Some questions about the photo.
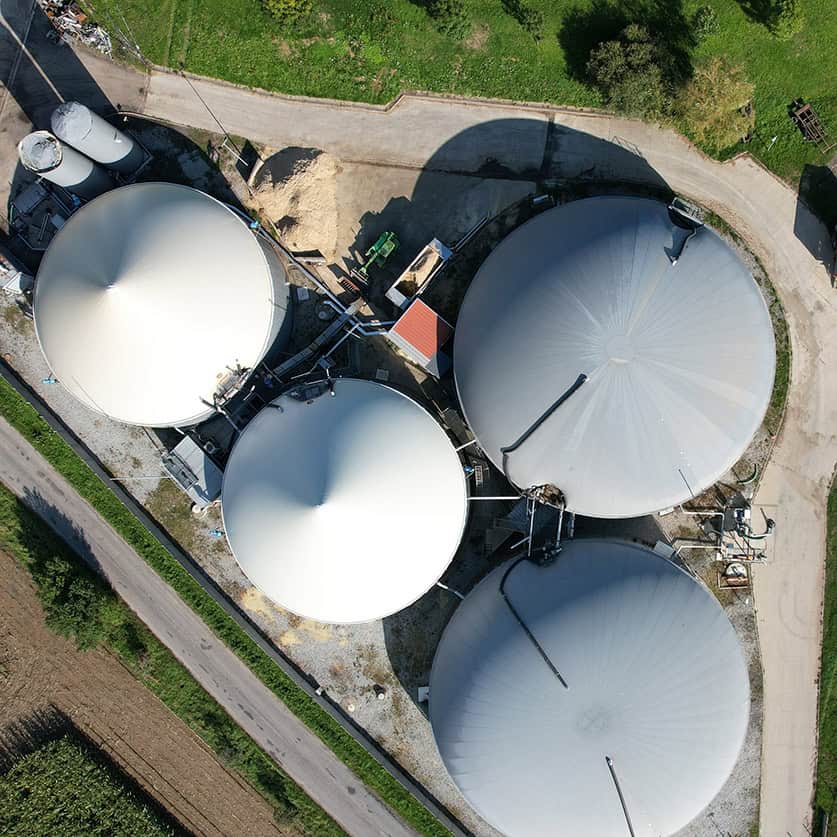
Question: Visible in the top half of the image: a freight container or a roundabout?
freight container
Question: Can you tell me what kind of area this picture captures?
industrial area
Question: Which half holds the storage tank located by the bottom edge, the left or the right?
right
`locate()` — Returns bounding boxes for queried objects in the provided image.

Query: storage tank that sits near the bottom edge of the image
[430,537,750,837]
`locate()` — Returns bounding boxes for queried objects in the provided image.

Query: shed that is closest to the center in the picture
[381,296,457,374]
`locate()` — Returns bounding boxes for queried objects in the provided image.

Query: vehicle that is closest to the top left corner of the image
[346,226,396,283]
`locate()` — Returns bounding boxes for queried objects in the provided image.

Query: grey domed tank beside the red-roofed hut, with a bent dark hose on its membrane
[454,197,775,517]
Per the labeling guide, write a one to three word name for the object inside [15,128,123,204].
silo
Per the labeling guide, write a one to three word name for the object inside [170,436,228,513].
building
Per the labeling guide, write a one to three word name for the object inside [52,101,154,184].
silo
